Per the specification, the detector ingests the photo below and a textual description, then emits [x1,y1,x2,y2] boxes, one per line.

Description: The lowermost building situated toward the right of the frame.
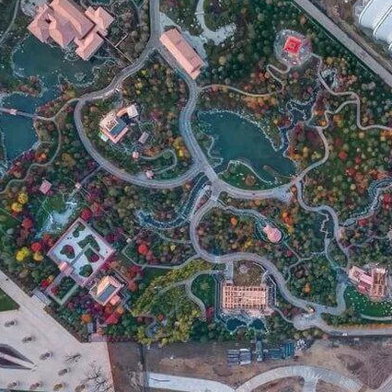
[222,283,269,309]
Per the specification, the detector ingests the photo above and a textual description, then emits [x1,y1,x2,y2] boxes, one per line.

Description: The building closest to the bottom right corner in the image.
[347,263,384,295]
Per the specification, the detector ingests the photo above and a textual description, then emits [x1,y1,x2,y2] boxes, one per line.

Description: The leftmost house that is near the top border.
[26,0,117,61]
